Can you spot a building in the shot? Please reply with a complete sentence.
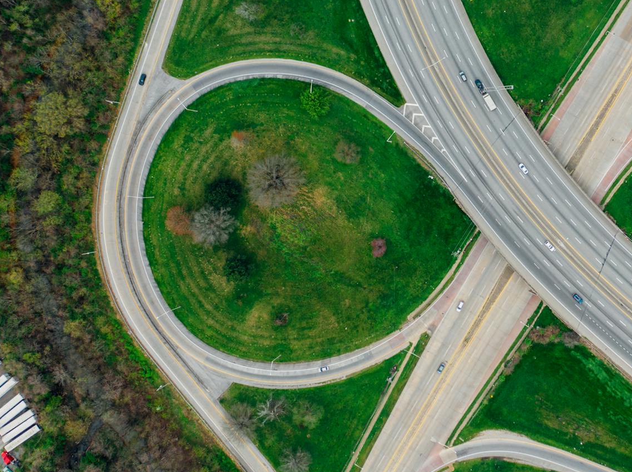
No, no building is visible in the scene.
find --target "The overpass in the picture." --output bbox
[453,106,621,328]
